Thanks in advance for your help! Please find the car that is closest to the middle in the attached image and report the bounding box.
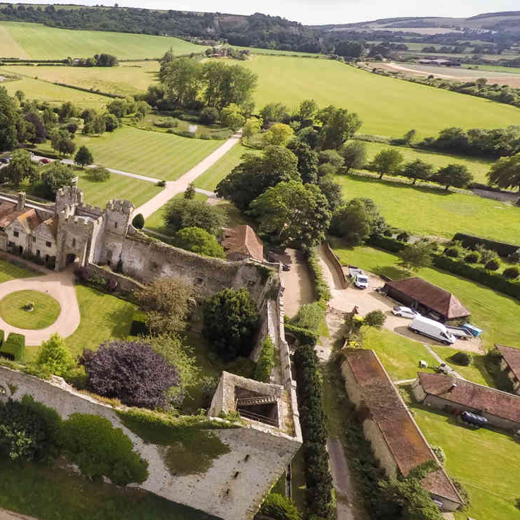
[283,259,297,272]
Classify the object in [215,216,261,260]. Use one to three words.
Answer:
house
